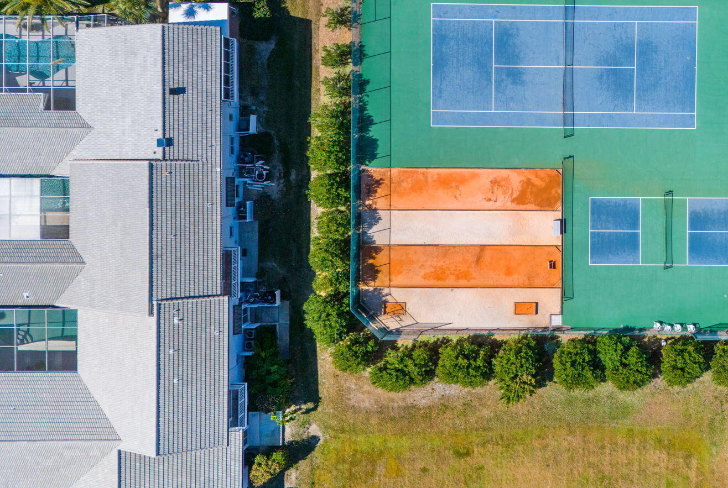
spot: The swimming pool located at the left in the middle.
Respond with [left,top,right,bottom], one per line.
[41,184,69,219]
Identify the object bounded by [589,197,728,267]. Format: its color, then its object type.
blue sports court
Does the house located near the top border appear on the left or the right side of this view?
left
